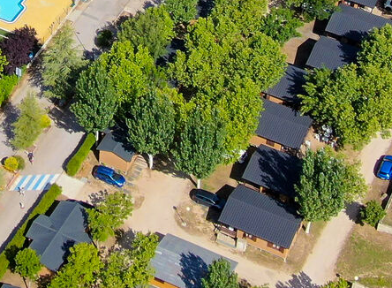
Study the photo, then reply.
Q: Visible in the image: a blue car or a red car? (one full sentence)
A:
Visible in the photo is a blue car.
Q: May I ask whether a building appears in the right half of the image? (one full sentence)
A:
Yes, I can see a building in the right half of the image.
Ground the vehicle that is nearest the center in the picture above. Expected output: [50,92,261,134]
[188,182,225,207]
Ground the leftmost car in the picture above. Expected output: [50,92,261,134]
[91,159,128,184]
